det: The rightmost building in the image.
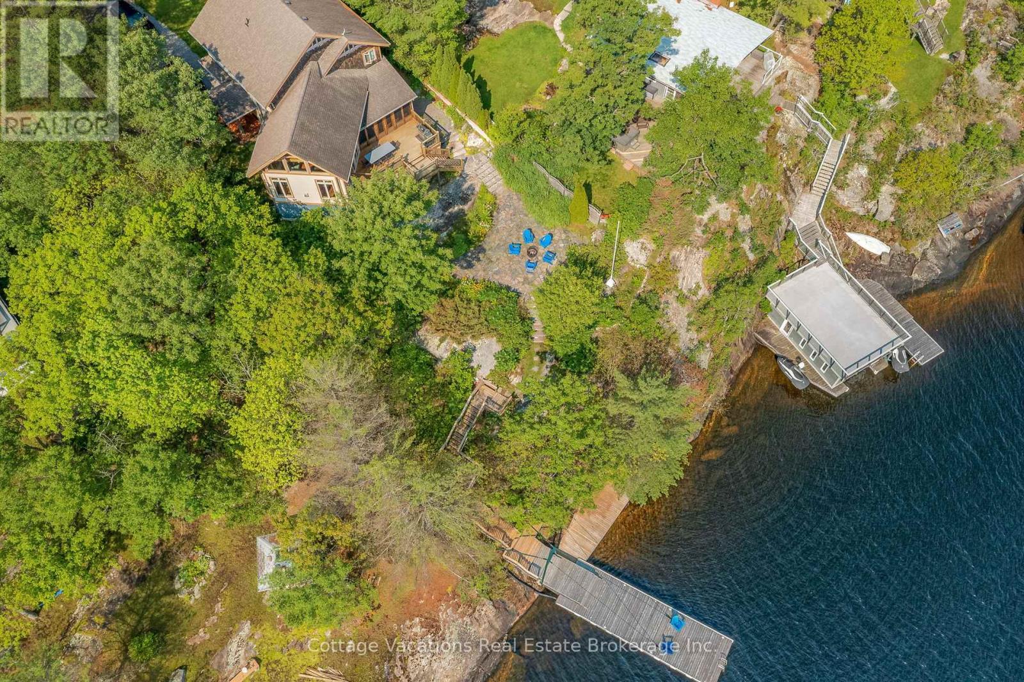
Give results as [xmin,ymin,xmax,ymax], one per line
[762,256,912,398]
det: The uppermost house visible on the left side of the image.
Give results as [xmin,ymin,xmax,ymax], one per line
[175,0,418,219]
